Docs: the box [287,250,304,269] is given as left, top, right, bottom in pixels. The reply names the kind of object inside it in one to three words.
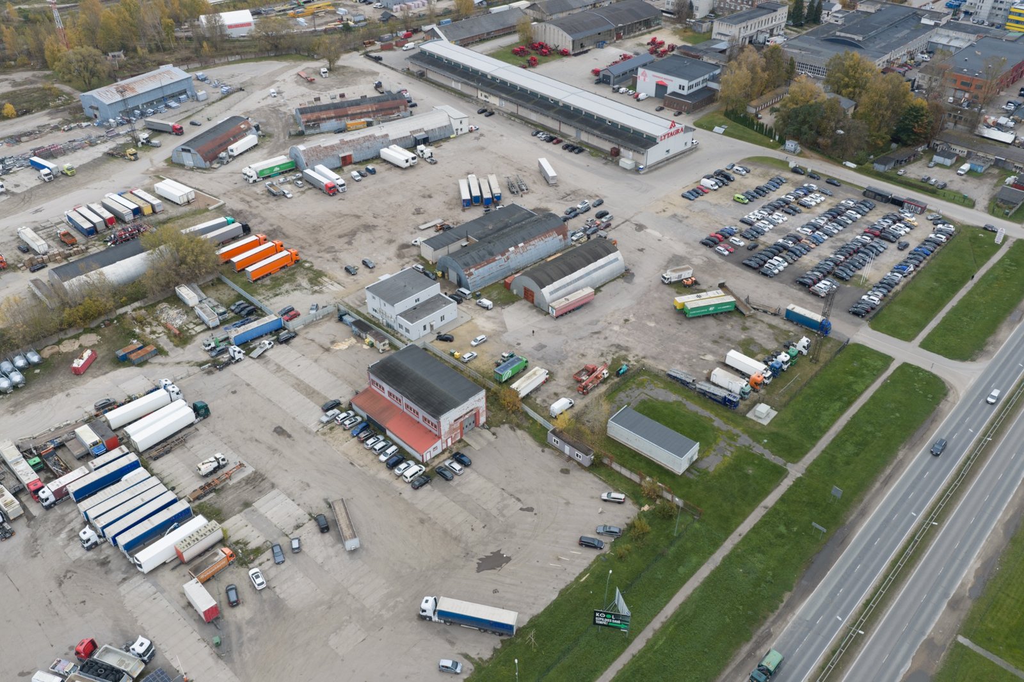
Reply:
vehicle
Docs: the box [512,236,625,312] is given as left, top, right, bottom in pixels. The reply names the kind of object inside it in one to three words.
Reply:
shed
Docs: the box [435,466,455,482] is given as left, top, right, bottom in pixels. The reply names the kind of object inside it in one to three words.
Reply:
car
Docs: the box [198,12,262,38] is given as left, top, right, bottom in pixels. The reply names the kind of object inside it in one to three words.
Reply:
building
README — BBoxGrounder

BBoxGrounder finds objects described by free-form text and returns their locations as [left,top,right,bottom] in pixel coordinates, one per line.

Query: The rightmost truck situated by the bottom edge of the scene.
[748,648,784,682]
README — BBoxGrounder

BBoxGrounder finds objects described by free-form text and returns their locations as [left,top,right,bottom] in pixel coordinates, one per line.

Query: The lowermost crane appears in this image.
[579,360,614,393]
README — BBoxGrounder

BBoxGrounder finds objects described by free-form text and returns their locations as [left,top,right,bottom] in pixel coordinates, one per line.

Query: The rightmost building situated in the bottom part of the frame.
[747,406,779,430]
